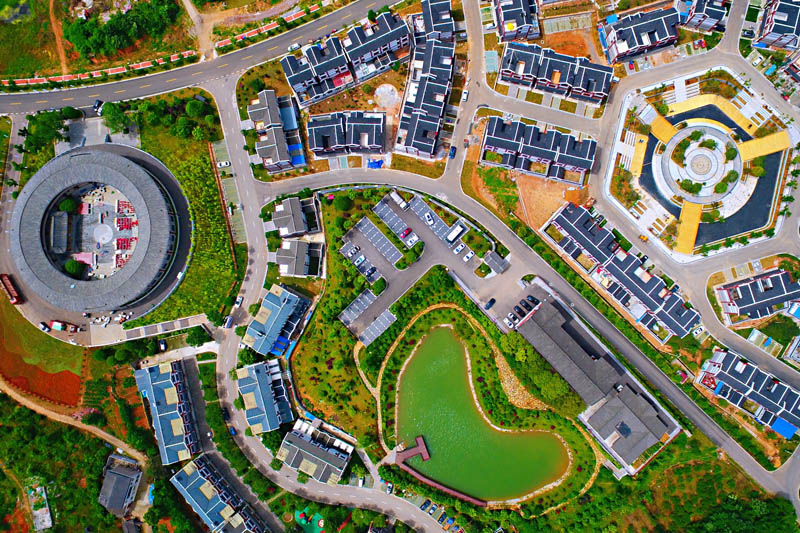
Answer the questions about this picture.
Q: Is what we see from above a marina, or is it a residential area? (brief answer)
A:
residential area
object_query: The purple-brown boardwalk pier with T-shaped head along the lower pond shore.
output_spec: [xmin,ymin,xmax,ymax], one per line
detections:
[384,436,487,507]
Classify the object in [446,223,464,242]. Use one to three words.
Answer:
vehicle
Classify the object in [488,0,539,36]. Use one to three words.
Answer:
house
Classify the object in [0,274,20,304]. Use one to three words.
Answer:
bus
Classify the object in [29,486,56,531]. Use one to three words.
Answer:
shed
